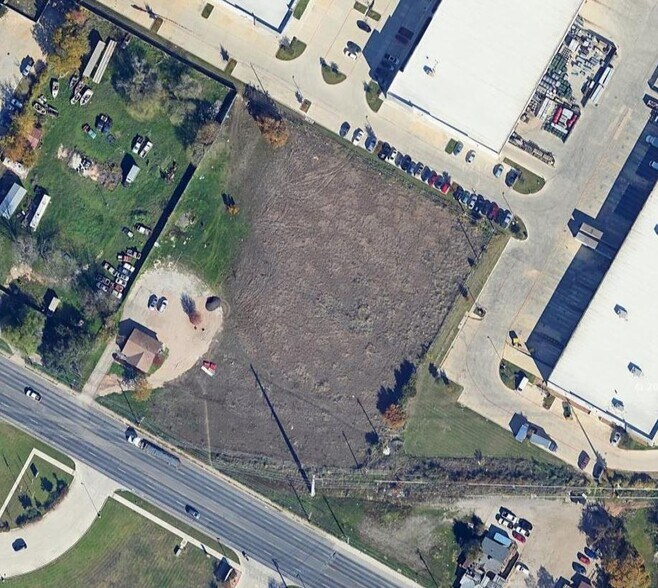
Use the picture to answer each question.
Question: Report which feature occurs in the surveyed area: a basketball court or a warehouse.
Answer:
warehouse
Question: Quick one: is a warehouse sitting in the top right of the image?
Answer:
Yes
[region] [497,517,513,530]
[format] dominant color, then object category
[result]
white vehicle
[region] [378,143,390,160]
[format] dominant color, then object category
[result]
black vehicle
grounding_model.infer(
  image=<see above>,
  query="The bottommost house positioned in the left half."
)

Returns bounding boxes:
[123,329,162,373]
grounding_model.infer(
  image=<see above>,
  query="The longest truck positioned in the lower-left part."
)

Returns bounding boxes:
[130,436,184,470]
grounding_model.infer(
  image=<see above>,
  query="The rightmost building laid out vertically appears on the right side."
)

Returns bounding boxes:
[546,189,658,445]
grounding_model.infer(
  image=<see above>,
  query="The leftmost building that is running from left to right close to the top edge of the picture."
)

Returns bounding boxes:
[209,0,303,40]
